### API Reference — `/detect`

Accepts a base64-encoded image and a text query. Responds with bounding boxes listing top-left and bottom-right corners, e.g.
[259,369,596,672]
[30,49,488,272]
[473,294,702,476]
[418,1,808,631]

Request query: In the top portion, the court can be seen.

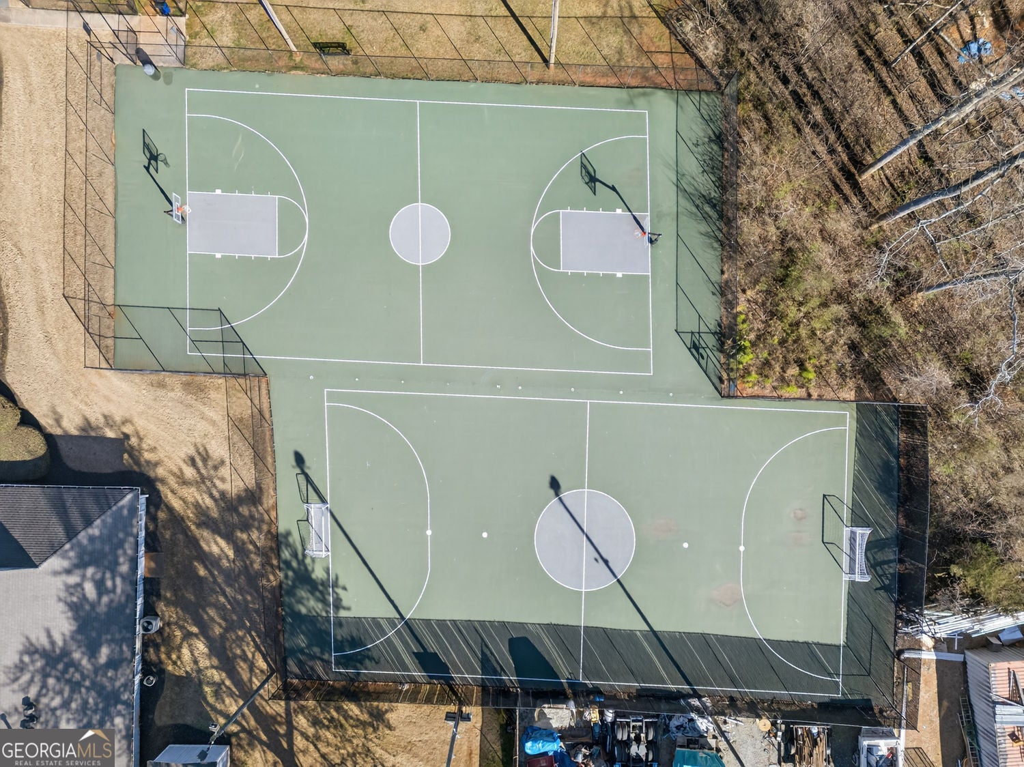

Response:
[113,63,722,397]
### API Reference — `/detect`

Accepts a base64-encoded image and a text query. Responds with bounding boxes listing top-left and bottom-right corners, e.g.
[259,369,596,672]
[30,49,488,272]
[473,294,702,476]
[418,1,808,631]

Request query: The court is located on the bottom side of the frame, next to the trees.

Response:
[267,376,898,710]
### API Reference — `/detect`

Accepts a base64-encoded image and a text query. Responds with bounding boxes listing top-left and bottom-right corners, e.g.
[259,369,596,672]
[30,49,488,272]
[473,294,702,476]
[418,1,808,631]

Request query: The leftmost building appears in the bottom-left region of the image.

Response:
[0,484,166,767]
